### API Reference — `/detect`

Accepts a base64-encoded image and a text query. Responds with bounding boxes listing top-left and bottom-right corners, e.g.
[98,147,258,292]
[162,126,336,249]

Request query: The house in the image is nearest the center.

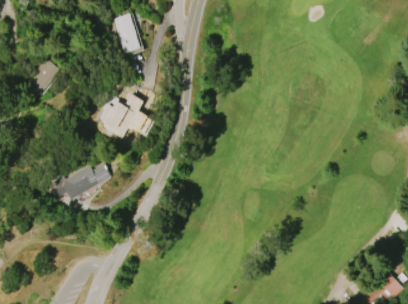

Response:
[100,94,155,138]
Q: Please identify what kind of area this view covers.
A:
golf course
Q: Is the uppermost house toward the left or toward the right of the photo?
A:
left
